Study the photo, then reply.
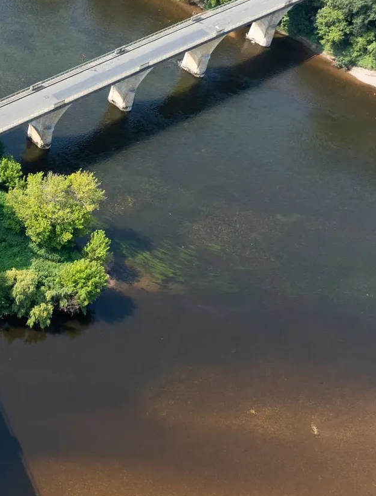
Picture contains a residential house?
No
